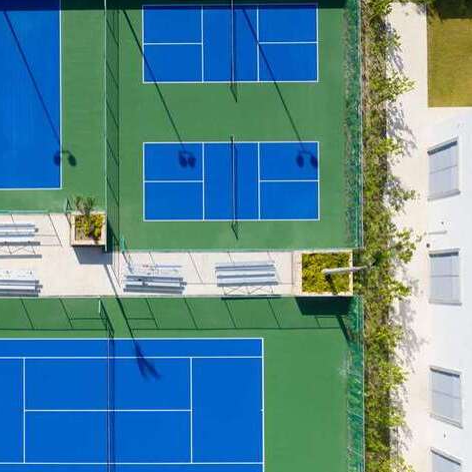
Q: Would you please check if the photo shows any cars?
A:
No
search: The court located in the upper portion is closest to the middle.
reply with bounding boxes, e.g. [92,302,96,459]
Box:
[143,142,320,220]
